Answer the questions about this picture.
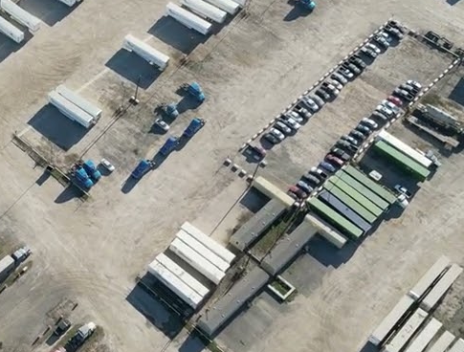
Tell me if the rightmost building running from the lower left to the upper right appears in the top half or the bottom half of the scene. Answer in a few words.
bottom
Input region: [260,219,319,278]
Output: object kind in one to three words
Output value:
building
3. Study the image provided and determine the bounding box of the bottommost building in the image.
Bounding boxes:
[196,265,270,340]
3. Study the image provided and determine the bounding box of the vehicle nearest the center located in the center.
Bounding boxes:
[249,141,268,158]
